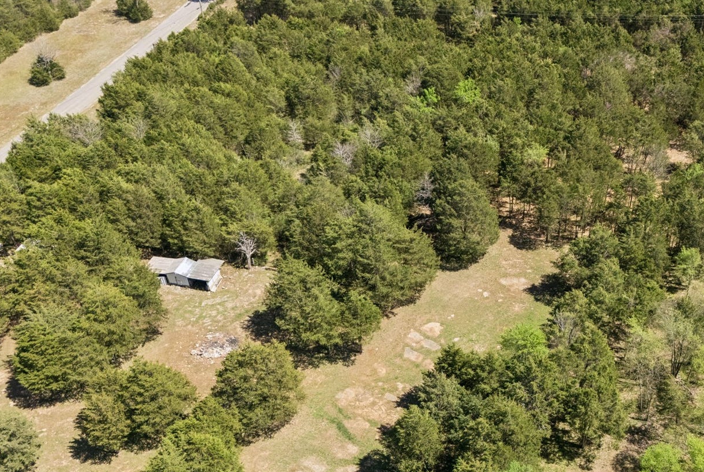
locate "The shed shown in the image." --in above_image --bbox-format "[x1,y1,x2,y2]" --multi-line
[144,254,231,294]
